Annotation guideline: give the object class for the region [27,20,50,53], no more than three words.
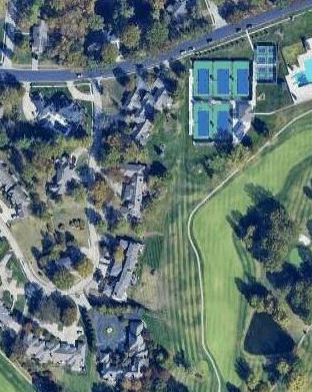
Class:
house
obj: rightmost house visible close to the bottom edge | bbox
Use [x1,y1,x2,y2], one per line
[95,319,149,383]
